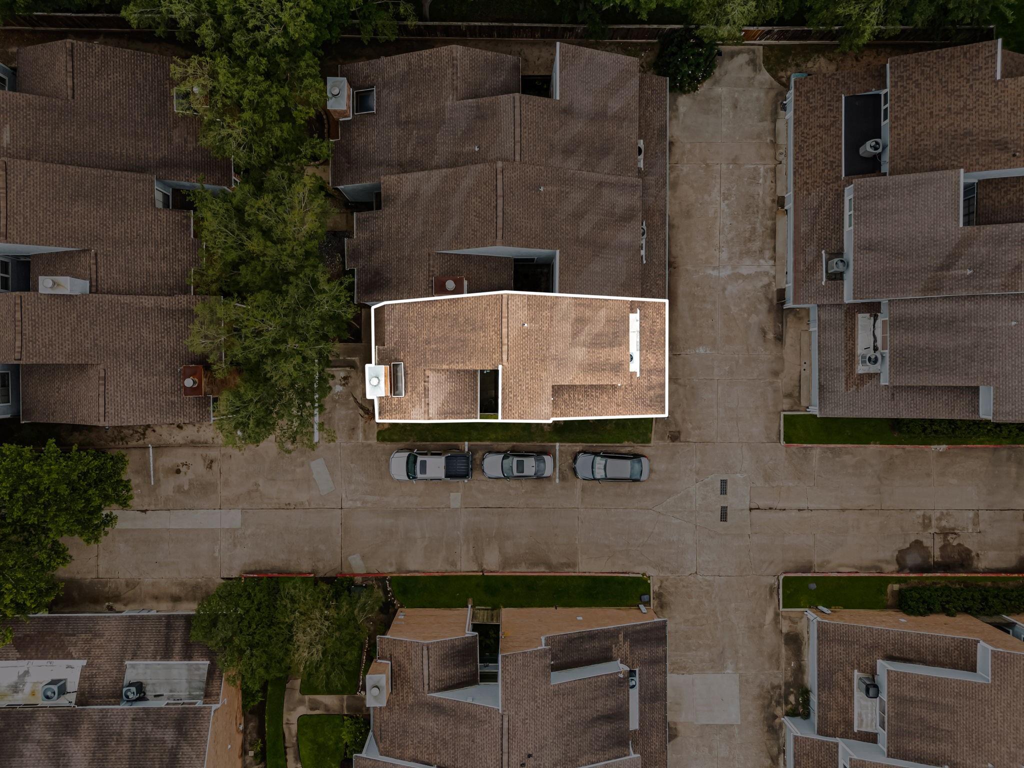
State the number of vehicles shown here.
3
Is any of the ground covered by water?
No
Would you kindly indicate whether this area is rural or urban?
urban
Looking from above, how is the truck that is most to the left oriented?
horizontally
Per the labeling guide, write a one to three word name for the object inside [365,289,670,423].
house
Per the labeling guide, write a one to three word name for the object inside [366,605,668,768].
house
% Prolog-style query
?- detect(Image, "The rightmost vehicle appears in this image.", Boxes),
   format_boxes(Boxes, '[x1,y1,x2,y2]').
[575,451,651,486]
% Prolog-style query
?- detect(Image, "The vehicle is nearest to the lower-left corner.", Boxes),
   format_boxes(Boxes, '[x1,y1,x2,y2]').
[388,450,472,486]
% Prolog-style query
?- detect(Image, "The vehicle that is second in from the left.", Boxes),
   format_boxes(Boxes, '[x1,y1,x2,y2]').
[482,451,552,484]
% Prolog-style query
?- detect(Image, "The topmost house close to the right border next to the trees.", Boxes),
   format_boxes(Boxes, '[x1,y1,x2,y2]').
[785,39,1024,193]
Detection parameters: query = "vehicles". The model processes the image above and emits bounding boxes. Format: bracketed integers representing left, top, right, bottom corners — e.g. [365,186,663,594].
[482,451,552,484]
[575,451,651,486]
[388,450,472,486]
